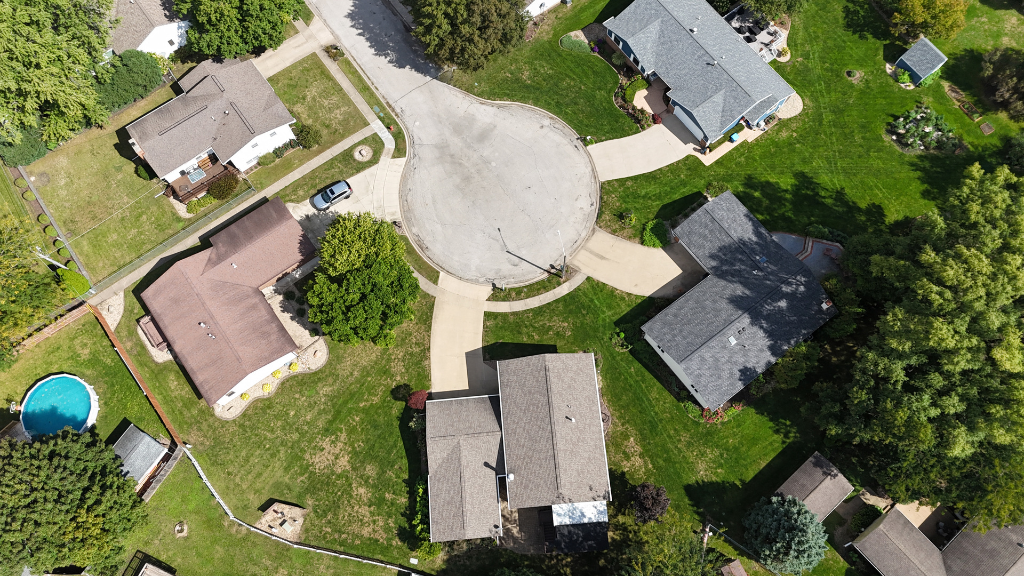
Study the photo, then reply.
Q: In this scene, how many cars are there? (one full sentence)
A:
I count just 1 car.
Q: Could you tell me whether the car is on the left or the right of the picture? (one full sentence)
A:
The car appears in the left half of the scene.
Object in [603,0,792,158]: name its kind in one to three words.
house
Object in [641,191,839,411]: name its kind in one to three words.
house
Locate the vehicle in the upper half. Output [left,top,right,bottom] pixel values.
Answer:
[314,182,354,211]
